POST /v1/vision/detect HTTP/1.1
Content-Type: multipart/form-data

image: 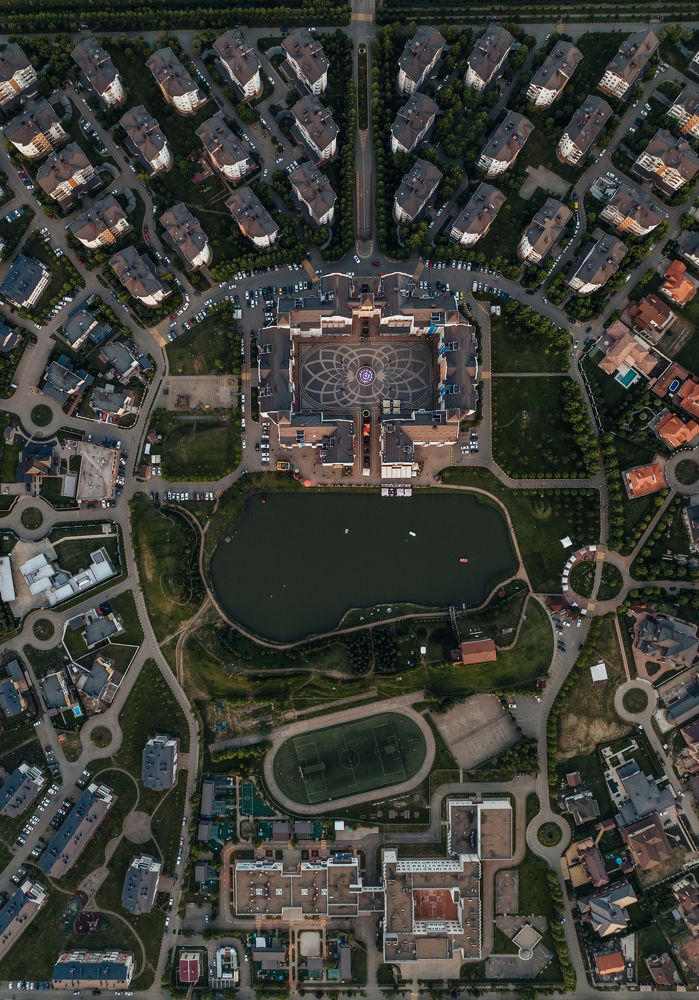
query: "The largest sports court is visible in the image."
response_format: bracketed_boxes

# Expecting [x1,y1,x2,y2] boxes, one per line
[431,693,523,770]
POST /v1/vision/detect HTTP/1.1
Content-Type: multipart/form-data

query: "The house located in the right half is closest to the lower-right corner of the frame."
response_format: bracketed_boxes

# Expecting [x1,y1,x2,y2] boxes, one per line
[645,948,679,989]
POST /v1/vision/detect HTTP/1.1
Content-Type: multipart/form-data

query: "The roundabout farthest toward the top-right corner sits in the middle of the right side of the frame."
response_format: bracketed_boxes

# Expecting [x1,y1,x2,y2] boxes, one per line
[666,449,699,494]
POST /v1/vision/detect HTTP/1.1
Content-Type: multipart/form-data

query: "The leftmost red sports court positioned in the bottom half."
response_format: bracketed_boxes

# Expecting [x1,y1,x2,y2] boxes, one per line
[414,889,460,923]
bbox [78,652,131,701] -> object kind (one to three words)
house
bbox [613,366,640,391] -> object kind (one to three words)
swimming pool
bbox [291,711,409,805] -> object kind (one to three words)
soccer field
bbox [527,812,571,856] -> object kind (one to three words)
roundabout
